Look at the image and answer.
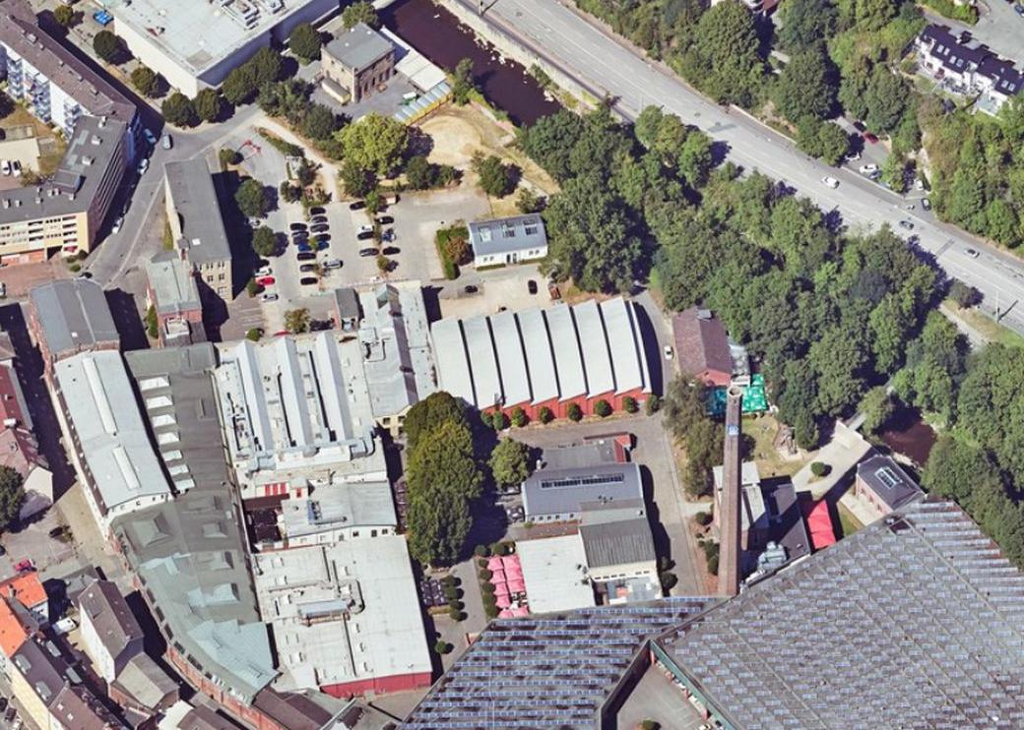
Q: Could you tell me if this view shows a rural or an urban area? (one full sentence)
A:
The area is urban.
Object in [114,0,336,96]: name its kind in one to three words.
building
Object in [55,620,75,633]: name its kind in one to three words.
vehicle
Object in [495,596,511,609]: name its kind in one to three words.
umbrella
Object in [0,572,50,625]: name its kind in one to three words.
house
